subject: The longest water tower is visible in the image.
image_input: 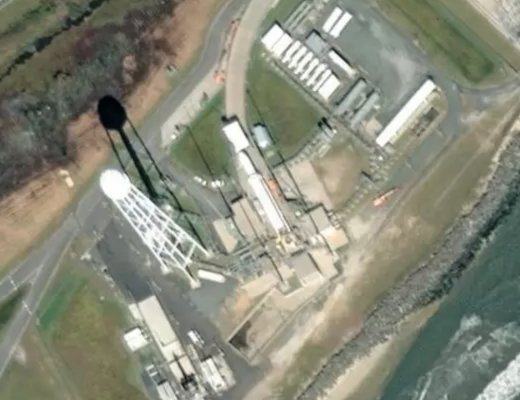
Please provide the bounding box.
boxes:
[98,167,214,288]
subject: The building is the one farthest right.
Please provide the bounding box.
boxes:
[376,80,440,150]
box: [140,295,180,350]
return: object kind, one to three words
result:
building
